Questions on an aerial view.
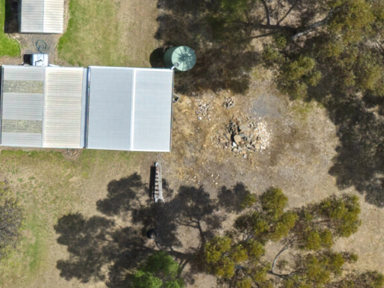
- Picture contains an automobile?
No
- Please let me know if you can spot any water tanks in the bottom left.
No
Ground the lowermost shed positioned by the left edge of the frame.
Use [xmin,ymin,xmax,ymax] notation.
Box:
[0,65,88,148]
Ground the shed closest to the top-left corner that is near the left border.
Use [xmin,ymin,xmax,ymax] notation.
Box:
[16,0,65,34]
